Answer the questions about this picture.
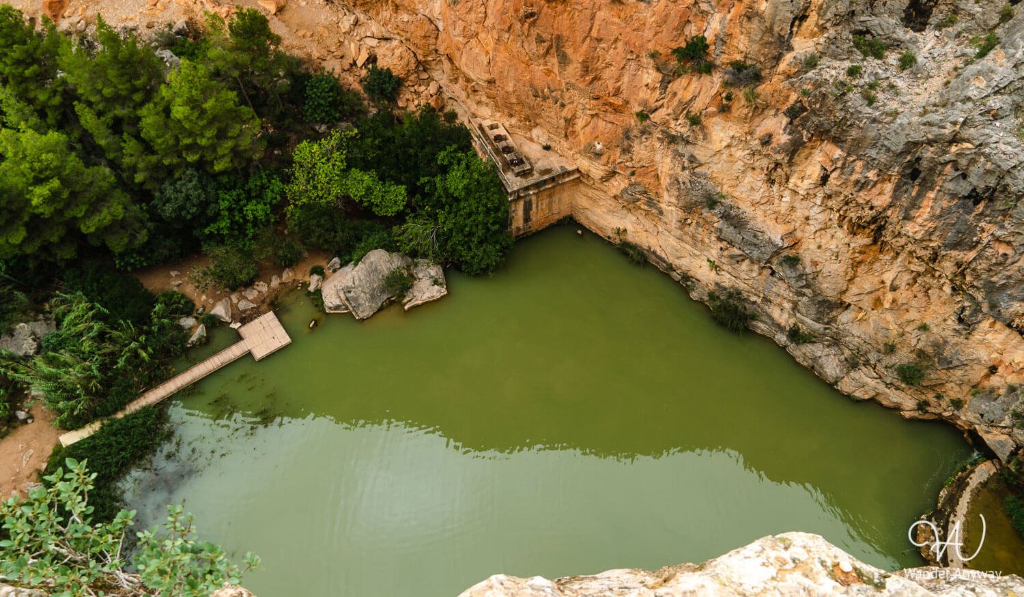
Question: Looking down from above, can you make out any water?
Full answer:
Yes, there's water in this view.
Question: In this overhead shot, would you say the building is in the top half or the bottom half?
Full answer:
It is in the top half that the building appears.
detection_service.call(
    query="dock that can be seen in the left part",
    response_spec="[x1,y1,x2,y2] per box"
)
[61,311,292,446]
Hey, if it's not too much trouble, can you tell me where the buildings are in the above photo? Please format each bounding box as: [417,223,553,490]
[462,110,576,234]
